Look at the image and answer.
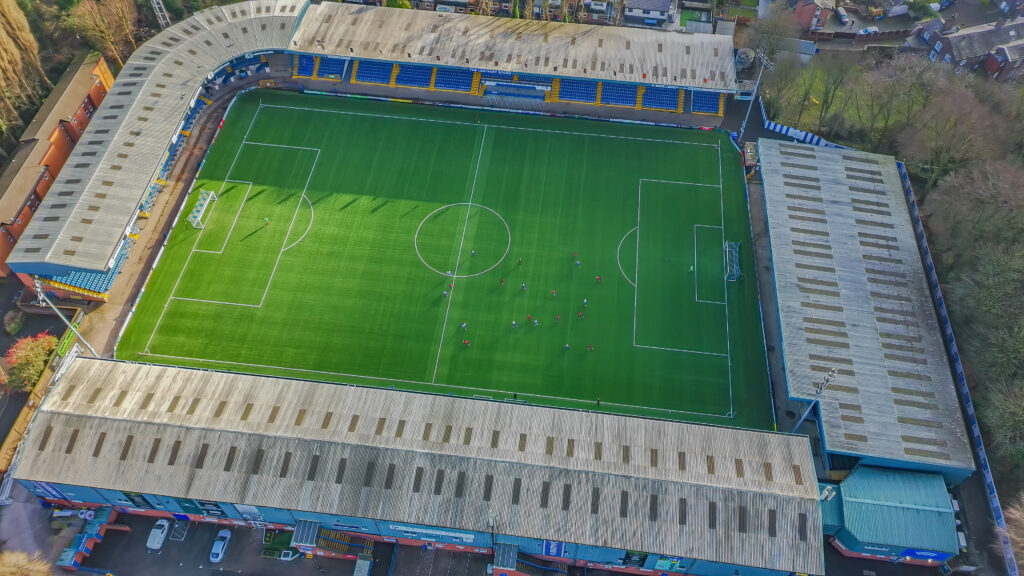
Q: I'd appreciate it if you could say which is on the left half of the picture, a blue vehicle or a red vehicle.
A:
blue vehicle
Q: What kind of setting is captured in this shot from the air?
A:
sports ground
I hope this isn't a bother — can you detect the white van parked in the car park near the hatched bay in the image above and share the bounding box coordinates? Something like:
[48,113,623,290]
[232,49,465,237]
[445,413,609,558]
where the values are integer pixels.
[146,518,172,550]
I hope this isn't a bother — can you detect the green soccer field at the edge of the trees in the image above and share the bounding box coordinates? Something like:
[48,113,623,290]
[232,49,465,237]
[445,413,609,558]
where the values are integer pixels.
[116,89,775,430]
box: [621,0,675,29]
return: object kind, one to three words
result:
house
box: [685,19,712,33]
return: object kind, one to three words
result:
shed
